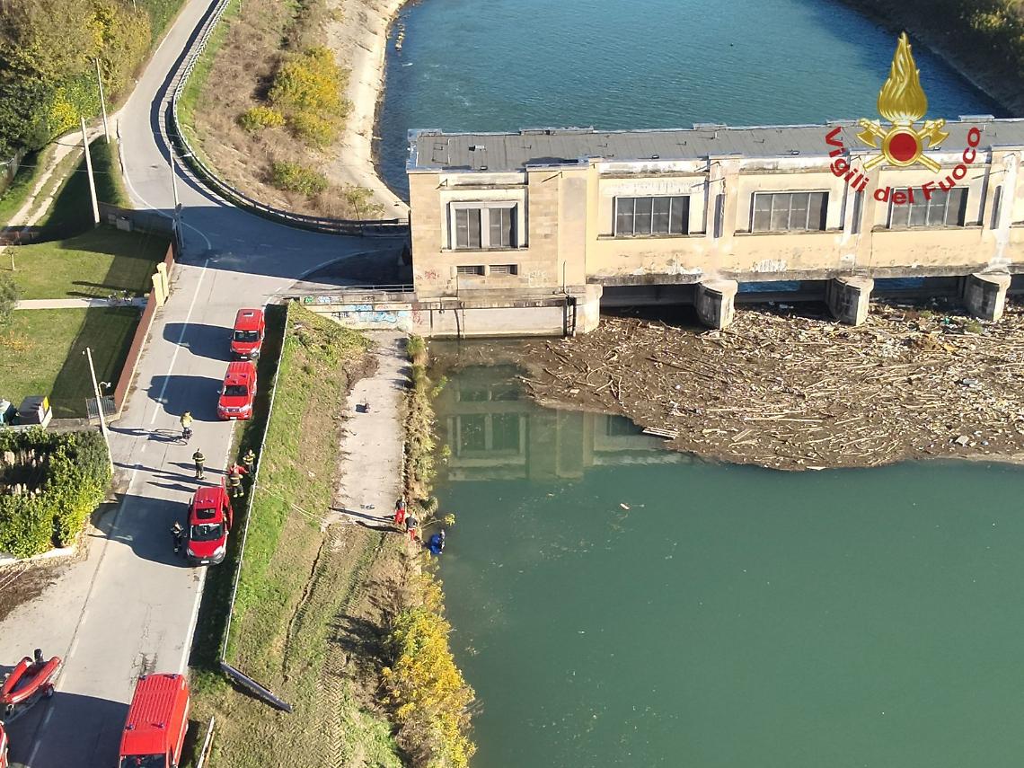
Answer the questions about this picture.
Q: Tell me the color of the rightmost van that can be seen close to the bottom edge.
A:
red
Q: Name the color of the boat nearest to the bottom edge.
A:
red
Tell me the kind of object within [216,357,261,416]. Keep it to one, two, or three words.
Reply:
truck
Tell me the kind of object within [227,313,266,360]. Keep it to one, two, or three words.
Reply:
van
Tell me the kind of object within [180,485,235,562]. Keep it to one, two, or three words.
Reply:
car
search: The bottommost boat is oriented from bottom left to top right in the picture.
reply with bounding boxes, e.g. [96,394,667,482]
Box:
[0,648,69,711]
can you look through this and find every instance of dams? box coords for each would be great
[406,105,1024,340]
